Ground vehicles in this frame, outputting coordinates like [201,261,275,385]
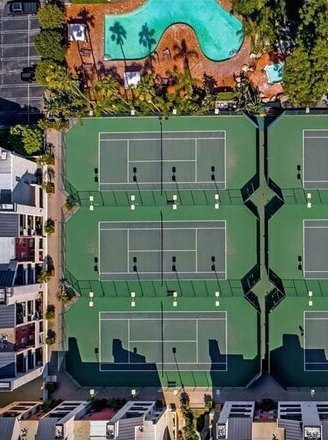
[6,1,37,16]
[18,69,42,81]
